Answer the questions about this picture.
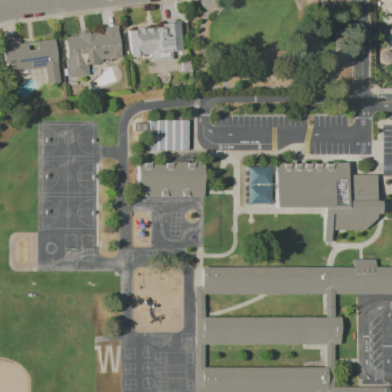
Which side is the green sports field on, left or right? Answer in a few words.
left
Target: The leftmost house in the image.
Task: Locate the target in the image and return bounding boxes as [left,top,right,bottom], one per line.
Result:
[5,39,60,84]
